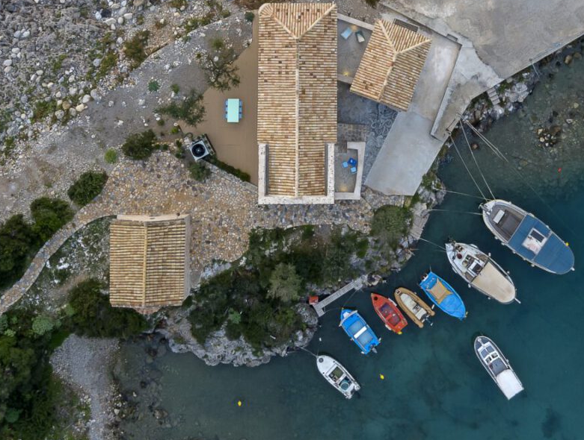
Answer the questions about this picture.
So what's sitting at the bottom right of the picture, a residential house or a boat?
boat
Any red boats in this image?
Yes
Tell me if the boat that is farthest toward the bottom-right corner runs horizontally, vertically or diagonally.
diagonally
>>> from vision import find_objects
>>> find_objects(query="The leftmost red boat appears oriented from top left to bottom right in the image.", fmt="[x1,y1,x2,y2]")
[370,293,408,335]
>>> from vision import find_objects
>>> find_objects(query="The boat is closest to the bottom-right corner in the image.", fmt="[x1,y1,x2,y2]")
[473,335,523,400]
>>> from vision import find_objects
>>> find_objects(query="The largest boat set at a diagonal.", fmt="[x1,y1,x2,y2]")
[478,200,575,275]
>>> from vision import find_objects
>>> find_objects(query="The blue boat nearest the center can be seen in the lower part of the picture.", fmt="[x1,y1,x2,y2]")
[339,308,381,355]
